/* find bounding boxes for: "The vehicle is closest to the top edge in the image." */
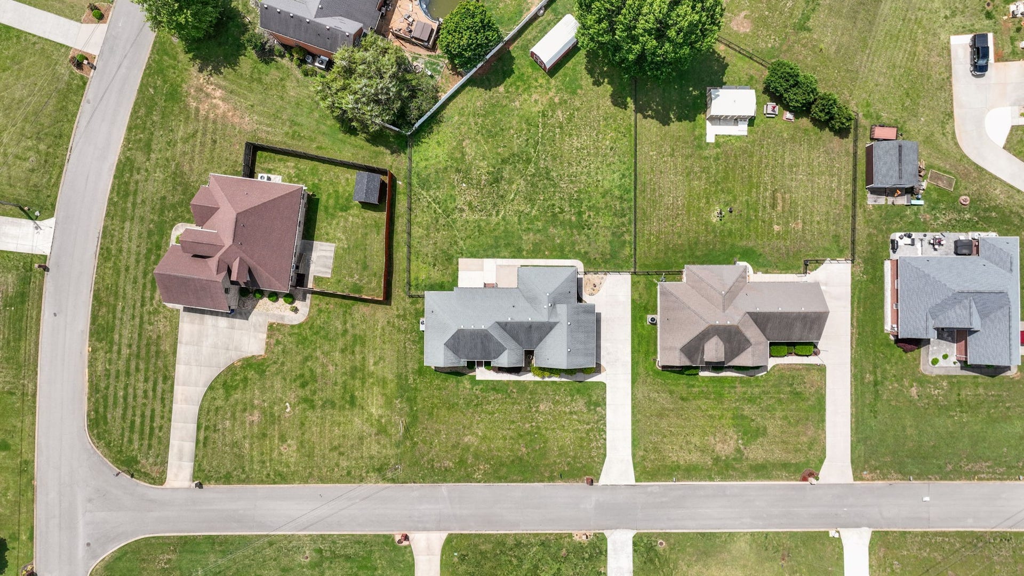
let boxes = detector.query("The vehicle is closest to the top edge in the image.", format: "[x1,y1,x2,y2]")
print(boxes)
[969,33,991,75]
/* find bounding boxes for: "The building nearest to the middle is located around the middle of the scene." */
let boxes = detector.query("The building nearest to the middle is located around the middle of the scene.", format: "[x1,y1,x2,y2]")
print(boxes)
[424,266,596,369]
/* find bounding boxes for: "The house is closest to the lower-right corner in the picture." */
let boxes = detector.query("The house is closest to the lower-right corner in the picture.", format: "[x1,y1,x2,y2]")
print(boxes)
[890,237,1021,366]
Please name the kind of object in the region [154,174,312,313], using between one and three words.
house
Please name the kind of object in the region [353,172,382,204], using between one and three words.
shed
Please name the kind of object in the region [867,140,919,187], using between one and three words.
shed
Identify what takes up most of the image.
grass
